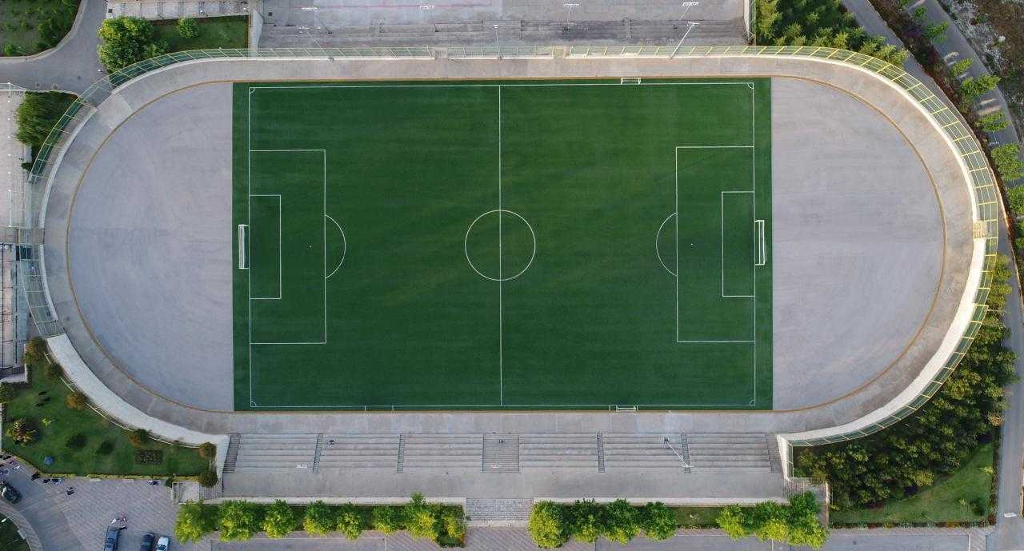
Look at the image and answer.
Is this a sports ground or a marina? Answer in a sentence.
It's a sports ground.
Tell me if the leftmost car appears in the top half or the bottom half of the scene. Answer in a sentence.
It is in the bottom half that the leftmost car appears.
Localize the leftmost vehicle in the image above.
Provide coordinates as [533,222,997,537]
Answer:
[0,480,23,504]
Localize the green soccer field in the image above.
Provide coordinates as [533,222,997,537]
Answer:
[233,78,773,411]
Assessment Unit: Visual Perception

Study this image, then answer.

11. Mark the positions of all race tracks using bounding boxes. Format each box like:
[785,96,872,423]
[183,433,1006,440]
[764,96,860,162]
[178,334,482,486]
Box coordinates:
[43,57,974,434]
